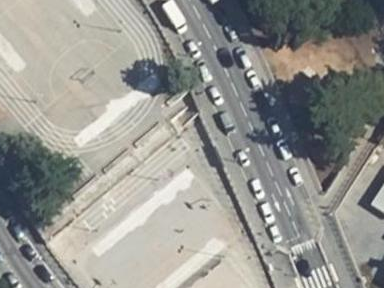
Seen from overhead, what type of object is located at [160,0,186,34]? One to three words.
truck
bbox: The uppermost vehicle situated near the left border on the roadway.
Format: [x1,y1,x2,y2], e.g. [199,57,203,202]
[6,217,24,240]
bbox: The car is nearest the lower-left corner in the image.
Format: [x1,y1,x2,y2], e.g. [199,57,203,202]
[3,272,20,288]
